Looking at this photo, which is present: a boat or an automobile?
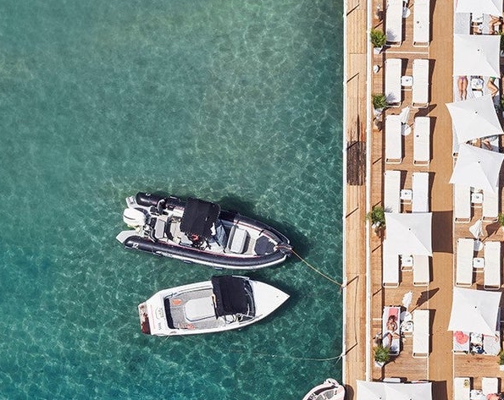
boat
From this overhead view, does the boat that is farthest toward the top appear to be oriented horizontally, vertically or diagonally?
horizontally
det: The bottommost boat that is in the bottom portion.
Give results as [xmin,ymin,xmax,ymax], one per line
[141,271,290,336]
